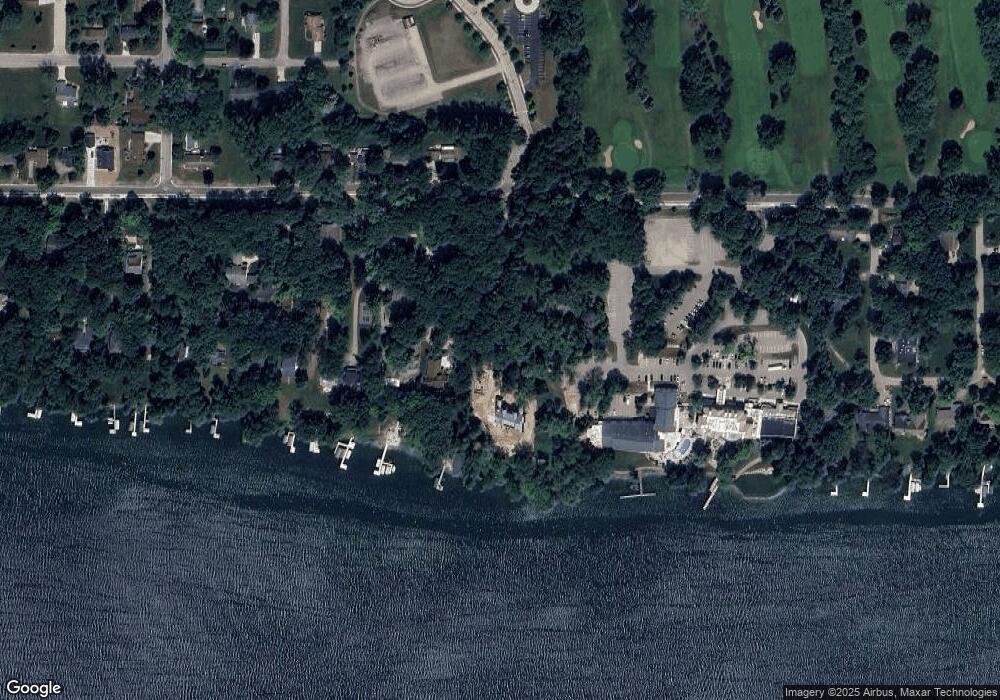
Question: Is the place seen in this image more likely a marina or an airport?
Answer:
marina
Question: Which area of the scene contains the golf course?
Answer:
top right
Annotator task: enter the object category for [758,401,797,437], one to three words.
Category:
building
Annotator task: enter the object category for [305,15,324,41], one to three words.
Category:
house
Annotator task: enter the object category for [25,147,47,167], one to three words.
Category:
house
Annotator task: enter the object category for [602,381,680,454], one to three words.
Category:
building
